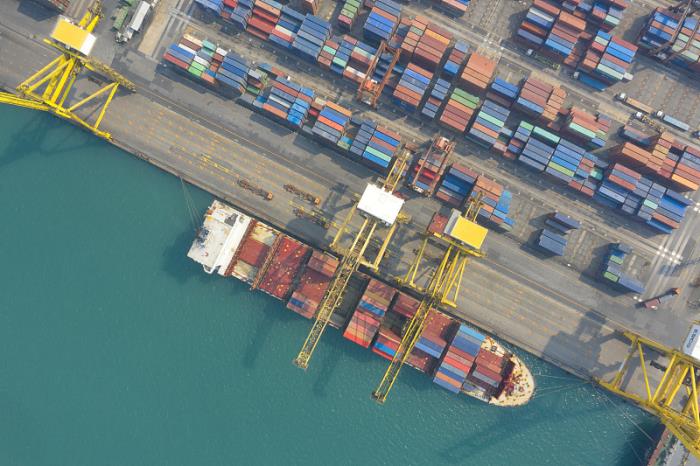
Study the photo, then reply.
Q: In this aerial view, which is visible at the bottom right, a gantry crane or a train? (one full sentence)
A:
You can see a gantry crane at the bottom right.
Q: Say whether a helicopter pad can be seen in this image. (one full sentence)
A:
No, the scene contains no helicopter pad.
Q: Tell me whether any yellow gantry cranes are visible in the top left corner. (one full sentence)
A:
Yes, I can see a yellow gantry crane in the top left corner.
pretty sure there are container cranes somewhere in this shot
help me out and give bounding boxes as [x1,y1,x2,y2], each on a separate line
[0,0,132,134]
[600,323,700,454]
[633,0,700,72]
[352,40,403,117]
[401,135,455,200]
[295,152,414,368]
[375,192,492,407]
